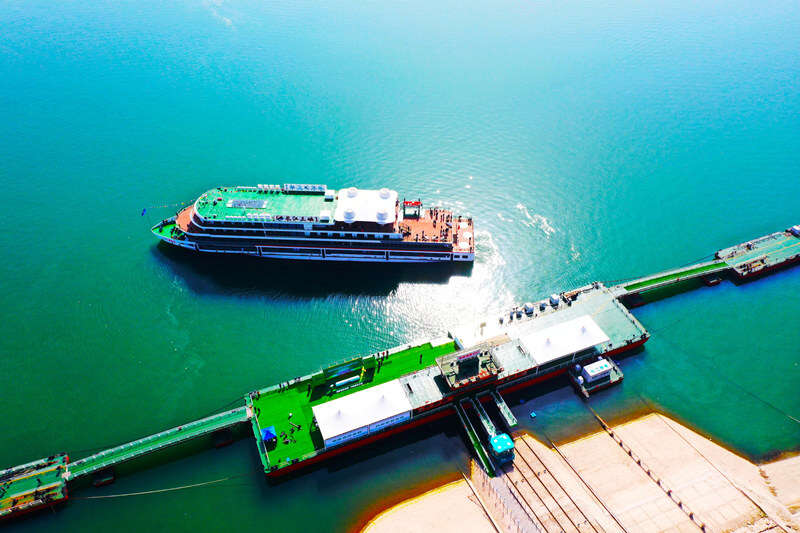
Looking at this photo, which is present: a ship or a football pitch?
ship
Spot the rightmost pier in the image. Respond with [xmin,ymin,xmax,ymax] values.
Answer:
[714,227,800,281]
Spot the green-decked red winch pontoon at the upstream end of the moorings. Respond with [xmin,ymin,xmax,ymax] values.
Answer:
[0,453,70,518]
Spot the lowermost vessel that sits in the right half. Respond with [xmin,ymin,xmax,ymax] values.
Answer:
[569,357,627,406]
